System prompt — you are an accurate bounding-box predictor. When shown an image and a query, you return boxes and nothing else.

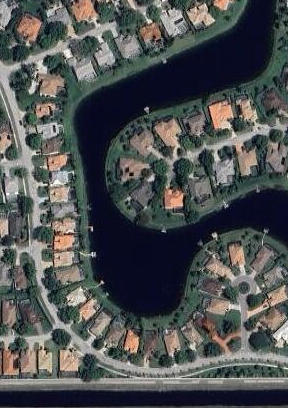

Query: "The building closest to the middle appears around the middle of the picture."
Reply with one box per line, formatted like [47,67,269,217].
[125,180,152,207]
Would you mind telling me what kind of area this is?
residential area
